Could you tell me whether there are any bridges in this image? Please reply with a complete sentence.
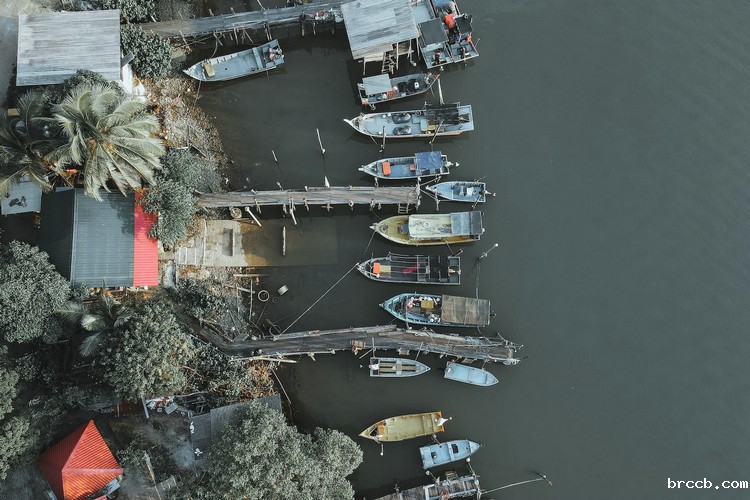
No, no bridge can be seen from above.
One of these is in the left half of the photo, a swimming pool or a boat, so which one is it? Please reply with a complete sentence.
It is a boat that can be seen in the left half of the photo.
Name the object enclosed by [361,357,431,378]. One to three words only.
boat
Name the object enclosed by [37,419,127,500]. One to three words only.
shed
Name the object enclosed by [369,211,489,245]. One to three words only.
boat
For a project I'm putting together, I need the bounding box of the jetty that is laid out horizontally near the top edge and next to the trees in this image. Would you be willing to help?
[143,0,342,51]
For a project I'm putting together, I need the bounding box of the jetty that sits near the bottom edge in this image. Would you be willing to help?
[366,470,478,500]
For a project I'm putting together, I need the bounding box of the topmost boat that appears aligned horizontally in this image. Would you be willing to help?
[182,43,292,81]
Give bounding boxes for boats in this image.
[420,438,483,469]
[437,361,498,386]
[341,102,479,137]
[357,151,461,179]
[406,0,453,78]
[379,293,498,327]
[182,43,292,81]
[352,72,438,107]
[361,357,431,378]
[424,181,497,201]
[369,211,489,245]
[423,0,478,72]
[357,255,469,283]
[360,411,454,440]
